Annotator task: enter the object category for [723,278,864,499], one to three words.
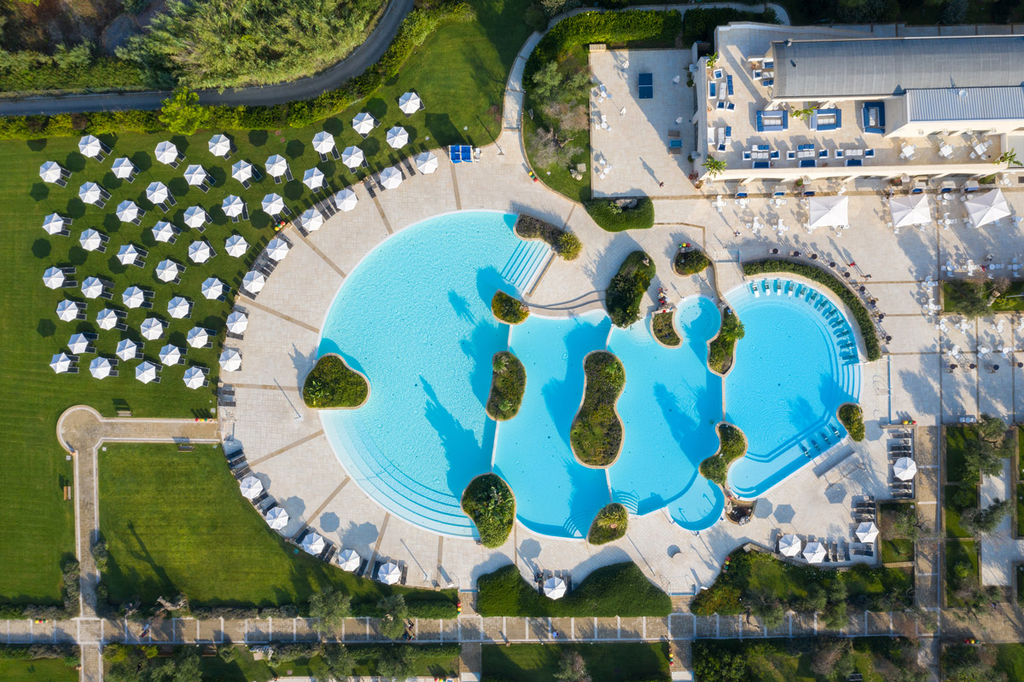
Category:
swimming pool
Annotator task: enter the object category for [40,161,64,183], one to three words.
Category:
umbrella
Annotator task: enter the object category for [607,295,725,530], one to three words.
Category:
swimming pool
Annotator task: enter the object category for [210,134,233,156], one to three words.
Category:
umbrella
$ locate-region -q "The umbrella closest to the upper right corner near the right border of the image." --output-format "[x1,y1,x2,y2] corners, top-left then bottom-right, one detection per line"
[963,188,1011,228]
